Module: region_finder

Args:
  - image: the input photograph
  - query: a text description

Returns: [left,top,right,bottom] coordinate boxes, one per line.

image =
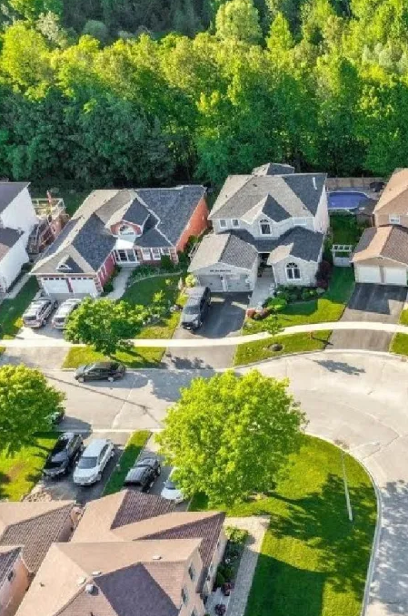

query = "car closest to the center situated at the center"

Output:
[181,294,210,327]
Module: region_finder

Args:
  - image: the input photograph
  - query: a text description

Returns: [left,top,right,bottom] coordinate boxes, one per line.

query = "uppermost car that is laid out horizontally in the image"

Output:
[72,360,128,382]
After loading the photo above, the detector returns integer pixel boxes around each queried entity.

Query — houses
[187,157,328,292]
[15,486,228,616]
[31,184,209,295]
[350,167,408,284]
[0,183,38,289]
